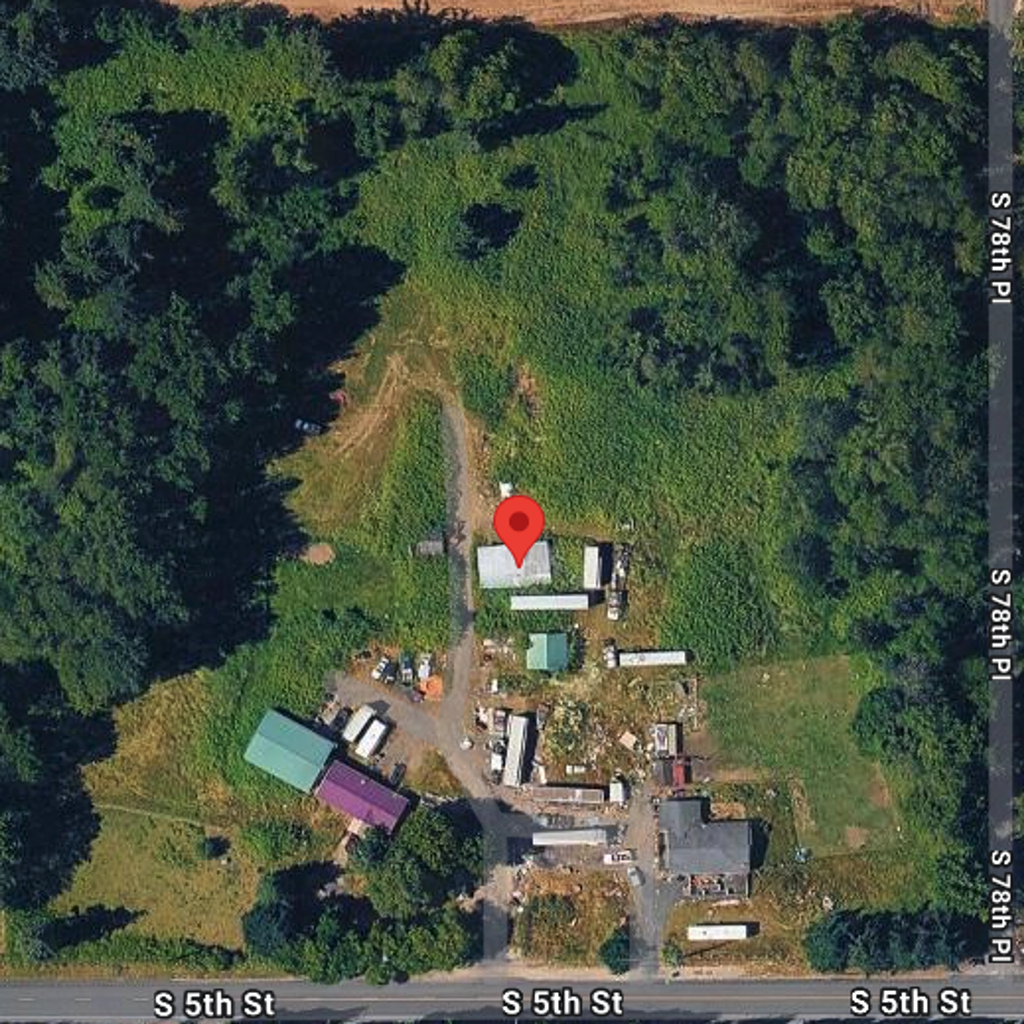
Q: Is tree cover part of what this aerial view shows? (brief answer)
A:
Yes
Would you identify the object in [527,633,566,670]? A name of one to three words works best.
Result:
shed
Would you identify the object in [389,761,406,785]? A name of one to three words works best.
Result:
vehicle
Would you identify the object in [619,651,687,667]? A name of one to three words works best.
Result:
trailer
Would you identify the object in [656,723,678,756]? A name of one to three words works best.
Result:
shed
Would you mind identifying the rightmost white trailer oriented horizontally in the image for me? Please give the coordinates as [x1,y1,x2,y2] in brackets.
[688,925,748,939]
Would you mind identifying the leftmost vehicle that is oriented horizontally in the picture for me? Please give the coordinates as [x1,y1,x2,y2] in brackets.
[294,419,321,431]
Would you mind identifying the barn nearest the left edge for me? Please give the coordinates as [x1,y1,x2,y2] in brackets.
[244,709,337,793]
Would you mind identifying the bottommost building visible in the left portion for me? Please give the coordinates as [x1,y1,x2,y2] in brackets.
[315,760,408,834]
